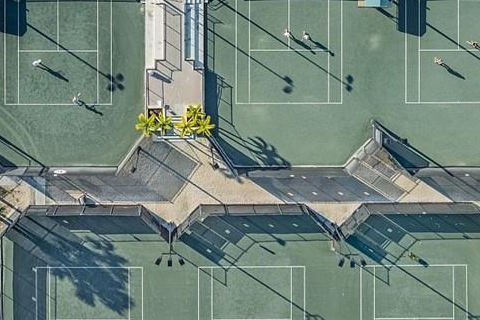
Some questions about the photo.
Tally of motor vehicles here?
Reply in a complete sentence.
Not a single motor vehicle can be seen.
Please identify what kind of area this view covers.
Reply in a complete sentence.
What you see here is a sports ground.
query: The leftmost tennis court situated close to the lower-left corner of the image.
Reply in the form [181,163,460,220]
[1,214,171,320]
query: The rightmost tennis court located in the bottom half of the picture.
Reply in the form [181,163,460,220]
[336,213,480,320]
